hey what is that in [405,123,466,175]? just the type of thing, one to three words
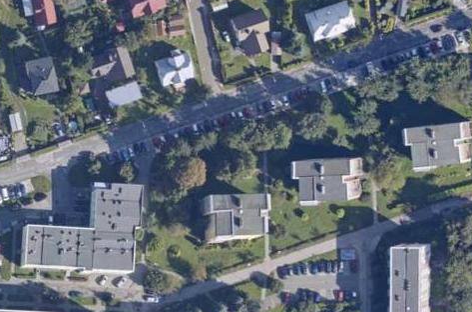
building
